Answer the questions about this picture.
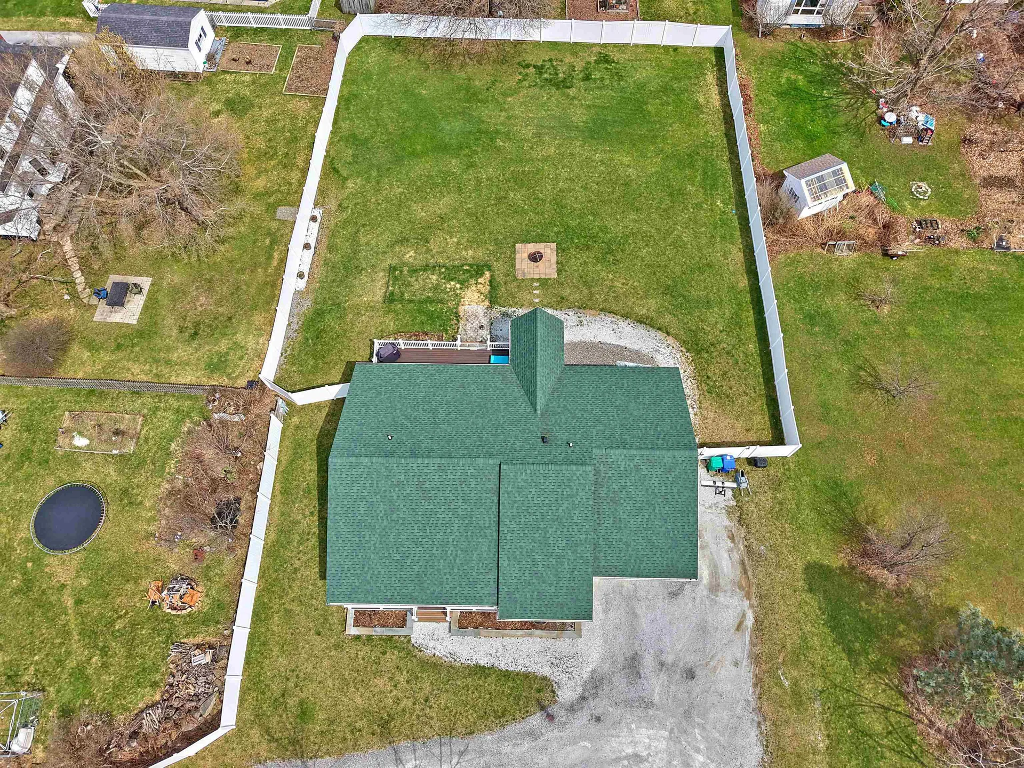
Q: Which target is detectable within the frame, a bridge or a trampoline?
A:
trampoline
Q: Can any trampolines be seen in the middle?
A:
No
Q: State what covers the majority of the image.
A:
grass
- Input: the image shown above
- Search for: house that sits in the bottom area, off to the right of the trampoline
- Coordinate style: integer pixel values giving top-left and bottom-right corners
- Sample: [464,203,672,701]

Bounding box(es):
[327,307,699,622]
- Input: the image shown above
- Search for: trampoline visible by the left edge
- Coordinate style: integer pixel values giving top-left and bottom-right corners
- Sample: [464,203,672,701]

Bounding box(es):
[32,482,112,555]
